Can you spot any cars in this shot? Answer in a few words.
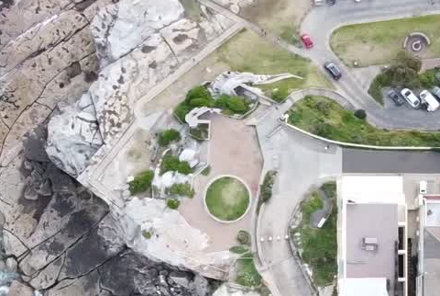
Yes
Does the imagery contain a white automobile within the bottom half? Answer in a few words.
No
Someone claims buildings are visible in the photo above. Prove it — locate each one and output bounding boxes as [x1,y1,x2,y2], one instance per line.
[335,174,408,296]
[410,194,440,296]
